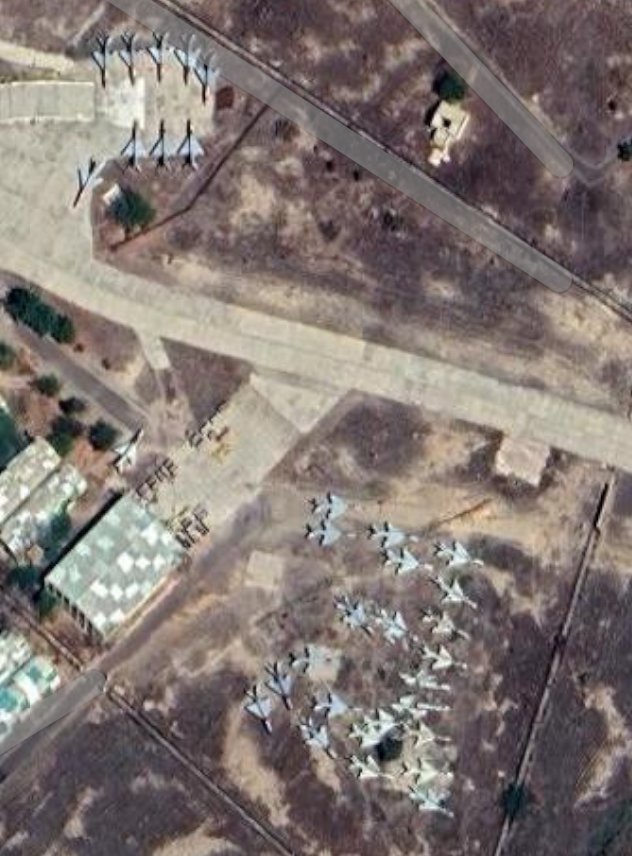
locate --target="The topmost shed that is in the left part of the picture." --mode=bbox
[216,87,234,110]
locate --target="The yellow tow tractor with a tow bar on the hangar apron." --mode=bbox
[207,443,228,461]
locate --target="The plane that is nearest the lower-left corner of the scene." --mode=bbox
[247,689,273,735]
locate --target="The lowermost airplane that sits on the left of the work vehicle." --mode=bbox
[110,429,143,470]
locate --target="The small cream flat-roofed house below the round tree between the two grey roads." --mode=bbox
[431,100,467,150]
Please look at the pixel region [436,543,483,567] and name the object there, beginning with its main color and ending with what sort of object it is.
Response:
white airplane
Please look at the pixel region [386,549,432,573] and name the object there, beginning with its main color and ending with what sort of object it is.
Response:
white airplane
